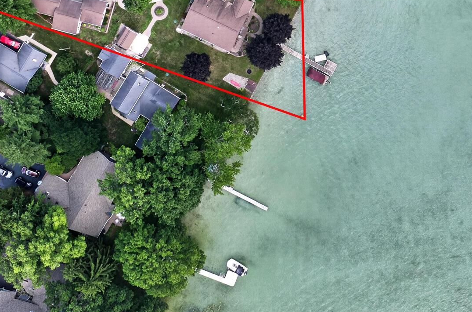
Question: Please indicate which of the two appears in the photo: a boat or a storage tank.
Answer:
boat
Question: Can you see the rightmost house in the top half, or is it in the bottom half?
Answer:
top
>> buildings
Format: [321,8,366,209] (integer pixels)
[30,0,109,35]
[98,45,132,79]
[110,70,181,151]
[115,26,139,51]
[0,42,49,90]
[172,0,254,53]
[31,151,115,238]
[0,278,49,312]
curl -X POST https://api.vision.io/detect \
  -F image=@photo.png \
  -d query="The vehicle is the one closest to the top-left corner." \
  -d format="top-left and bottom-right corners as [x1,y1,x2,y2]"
[0,34,22,49]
